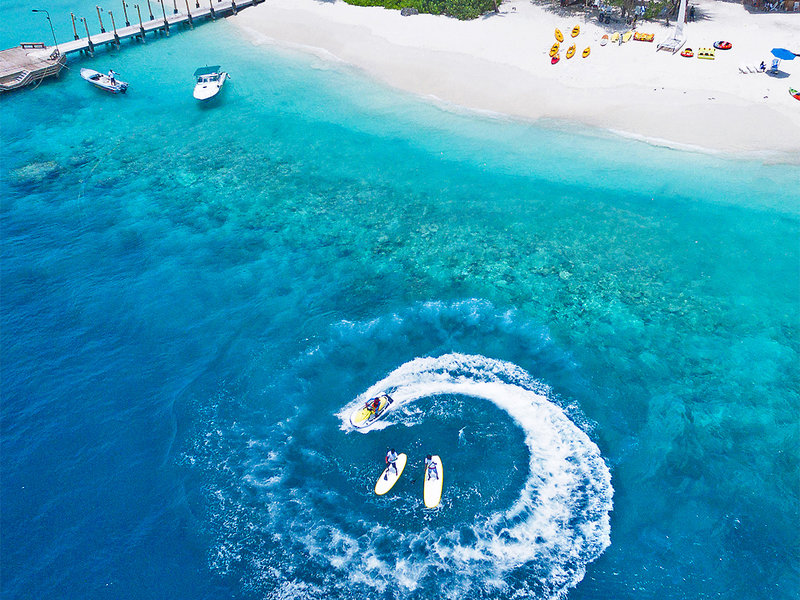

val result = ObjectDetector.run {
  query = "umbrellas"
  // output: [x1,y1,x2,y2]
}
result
[769,46,798,71]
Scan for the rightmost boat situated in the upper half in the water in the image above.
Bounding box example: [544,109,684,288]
[195,65,231,103]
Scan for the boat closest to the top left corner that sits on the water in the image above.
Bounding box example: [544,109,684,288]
[80,67,131,98]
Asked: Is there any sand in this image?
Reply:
Yes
